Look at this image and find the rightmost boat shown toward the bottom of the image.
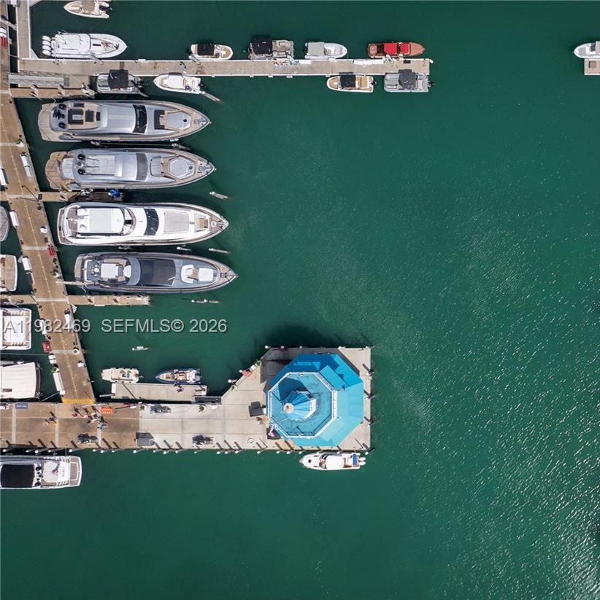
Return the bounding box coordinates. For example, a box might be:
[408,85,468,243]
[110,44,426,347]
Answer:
[299,453,368,470]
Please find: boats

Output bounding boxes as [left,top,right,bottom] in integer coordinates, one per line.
[97,70,148,95]
[574,41,600,58]
[327,75,380,92]
[154,74,209,94]
[246,39,295,59]
[155,368,201,384]
[302,42,348,58]
[186,43,234,59]
[384,74,435,92]
[368,42,424,57]
[43,32,129,59]
[39,102,210,144]
[0,454,82,490]
[0,254,19,291]
[102,367,148,383]
[299,453,368,470]
[58,204,229,248]
[46,149,216,190]
[64,0,111,19]
[0,308,34,350]
[63,254,237,295]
